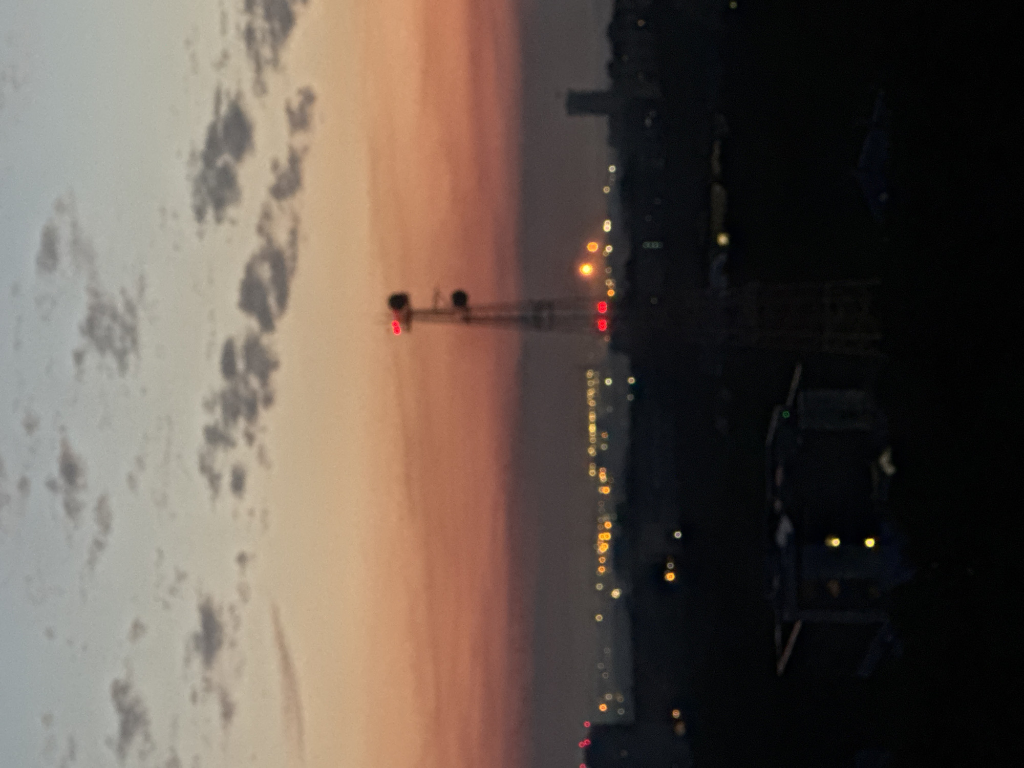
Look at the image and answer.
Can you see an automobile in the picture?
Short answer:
No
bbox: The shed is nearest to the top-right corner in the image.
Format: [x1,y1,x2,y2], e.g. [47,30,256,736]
[854,92,905,229]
